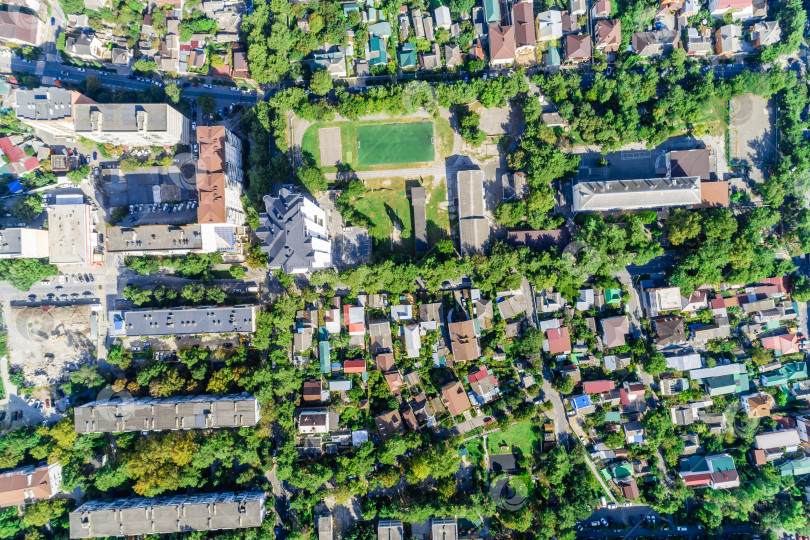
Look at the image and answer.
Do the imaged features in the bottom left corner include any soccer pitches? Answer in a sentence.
No, I can find no soccer pitch in the bottom left corner.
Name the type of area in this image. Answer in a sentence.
It's a residential area.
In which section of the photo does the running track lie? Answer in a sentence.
The running track sits in the top section of the image.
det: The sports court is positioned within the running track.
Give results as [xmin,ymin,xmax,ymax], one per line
[319,127,342,166]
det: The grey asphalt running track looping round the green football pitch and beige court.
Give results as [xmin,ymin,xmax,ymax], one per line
[292,108,464,182]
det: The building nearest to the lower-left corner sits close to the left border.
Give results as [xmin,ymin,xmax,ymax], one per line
[0,459,65,504]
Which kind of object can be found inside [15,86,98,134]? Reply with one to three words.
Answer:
building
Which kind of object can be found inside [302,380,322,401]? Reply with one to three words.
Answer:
house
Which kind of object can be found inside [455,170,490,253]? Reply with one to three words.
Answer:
building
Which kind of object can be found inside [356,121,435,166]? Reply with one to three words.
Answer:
soccer field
